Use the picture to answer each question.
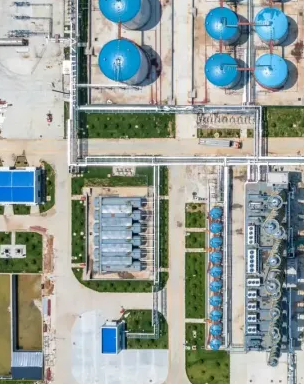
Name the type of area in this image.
industrial area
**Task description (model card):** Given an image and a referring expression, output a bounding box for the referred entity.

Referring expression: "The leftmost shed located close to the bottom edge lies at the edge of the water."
[11,350,47,380]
